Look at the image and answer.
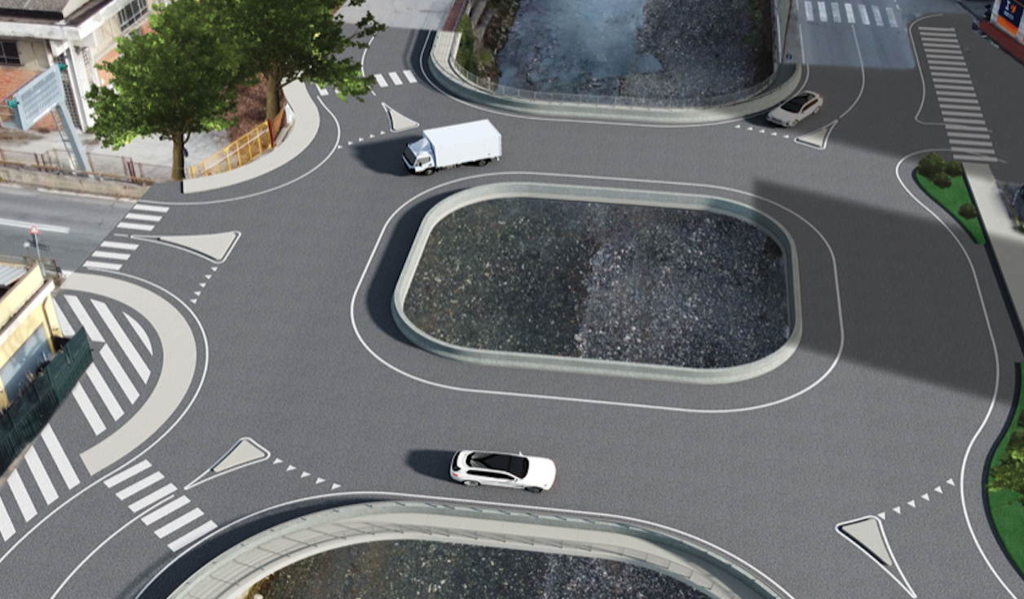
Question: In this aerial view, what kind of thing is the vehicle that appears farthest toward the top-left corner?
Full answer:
The vehicle that appears farthest toward the top-left corner can be classified as a truck.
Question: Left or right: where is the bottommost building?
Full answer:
The bottommost building sits on the left side.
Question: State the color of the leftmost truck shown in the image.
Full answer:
In this view, the leftmost truck is white.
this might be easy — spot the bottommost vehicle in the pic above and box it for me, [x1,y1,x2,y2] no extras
[451,445,557,493]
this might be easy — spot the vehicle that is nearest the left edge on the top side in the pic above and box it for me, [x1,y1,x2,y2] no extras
[403,116,502,176]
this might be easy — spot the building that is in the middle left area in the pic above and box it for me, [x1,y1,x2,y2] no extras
[0,255,67,412]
